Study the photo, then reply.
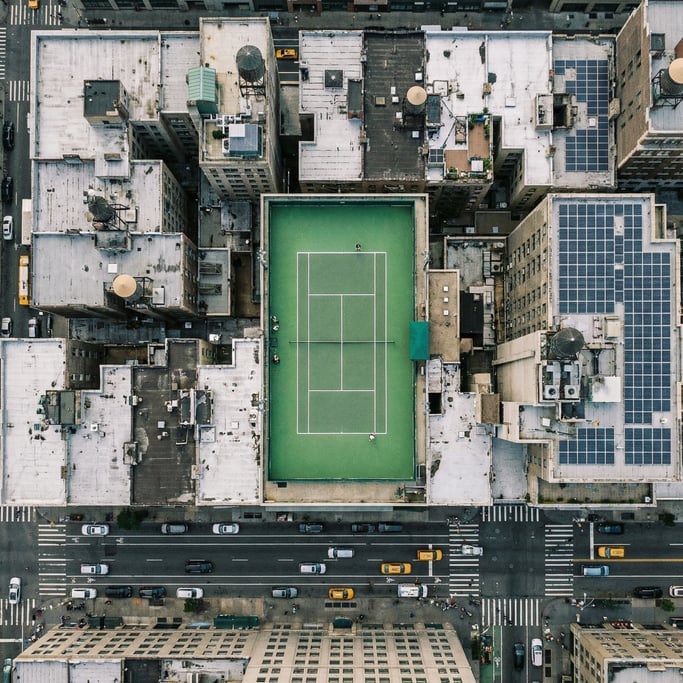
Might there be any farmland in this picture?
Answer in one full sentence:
No, there is no farmland in the image.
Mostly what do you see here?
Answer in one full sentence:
The bulk of the photo consists of buildings.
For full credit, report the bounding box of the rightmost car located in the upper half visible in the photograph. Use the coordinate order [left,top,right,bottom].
[275,47,299,61]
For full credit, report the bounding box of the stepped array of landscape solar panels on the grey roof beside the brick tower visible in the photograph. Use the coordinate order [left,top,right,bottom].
[555,61,608,171]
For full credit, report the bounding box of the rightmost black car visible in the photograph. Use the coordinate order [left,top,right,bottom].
[633,586,662,599]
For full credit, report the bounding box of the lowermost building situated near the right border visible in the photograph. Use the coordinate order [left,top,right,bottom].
[572,625,683,683]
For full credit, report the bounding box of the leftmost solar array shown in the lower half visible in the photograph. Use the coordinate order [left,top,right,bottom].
[558,428,614,465]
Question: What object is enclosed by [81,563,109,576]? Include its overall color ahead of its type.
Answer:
white vehicle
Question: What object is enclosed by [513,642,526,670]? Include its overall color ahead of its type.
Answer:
black vehicle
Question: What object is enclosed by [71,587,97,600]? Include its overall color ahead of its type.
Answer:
white vehicle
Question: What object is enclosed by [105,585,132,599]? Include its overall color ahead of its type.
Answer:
black vehicle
